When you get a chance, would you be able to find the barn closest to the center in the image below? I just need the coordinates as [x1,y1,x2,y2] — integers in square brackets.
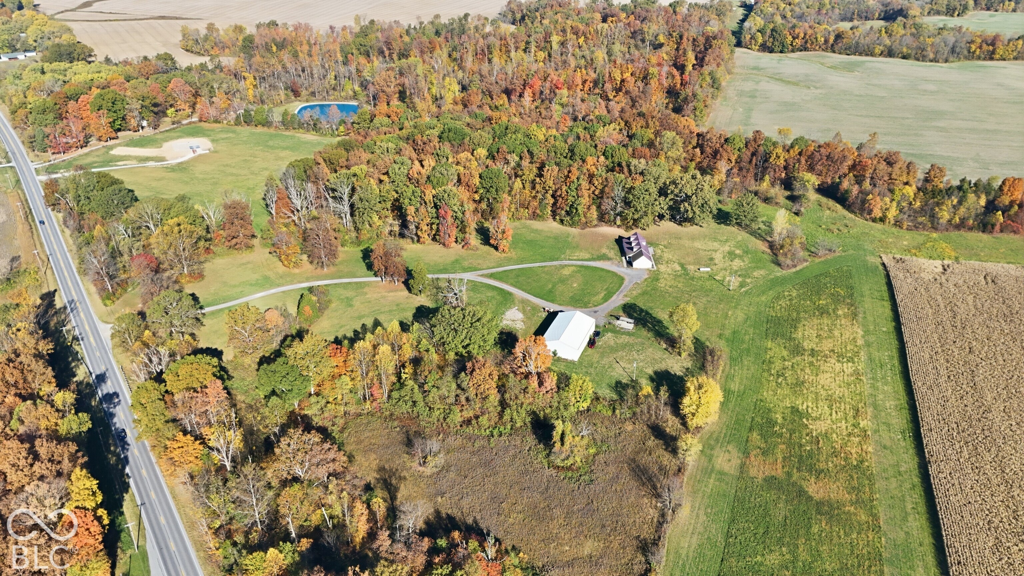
[542,309,596,361]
